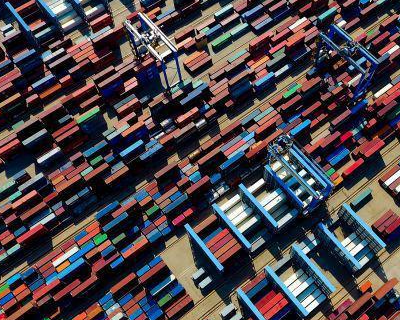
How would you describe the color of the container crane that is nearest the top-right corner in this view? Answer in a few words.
blue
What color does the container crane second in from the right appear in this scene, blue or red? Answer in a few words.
blue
